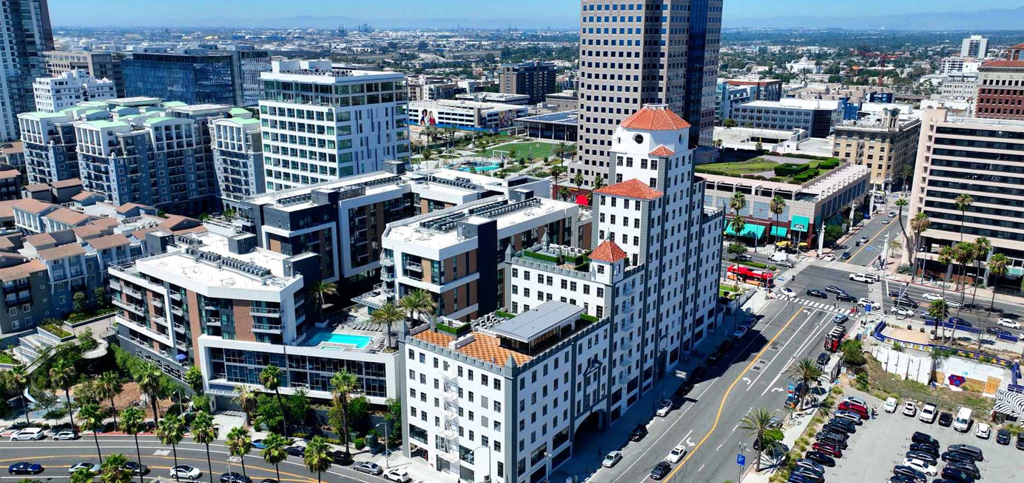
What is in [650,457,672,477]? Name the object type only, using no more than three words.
car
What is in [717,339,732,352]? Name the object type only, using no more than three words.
vehicle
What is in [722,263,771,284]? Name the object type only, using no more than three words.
bus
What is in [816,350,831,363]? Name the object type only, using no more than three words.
vehicle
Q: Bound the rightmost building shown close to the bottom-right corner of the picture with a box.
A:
[992,387,1024,433]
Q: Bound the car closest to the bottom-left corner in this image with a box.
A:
[8,459,42,472]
